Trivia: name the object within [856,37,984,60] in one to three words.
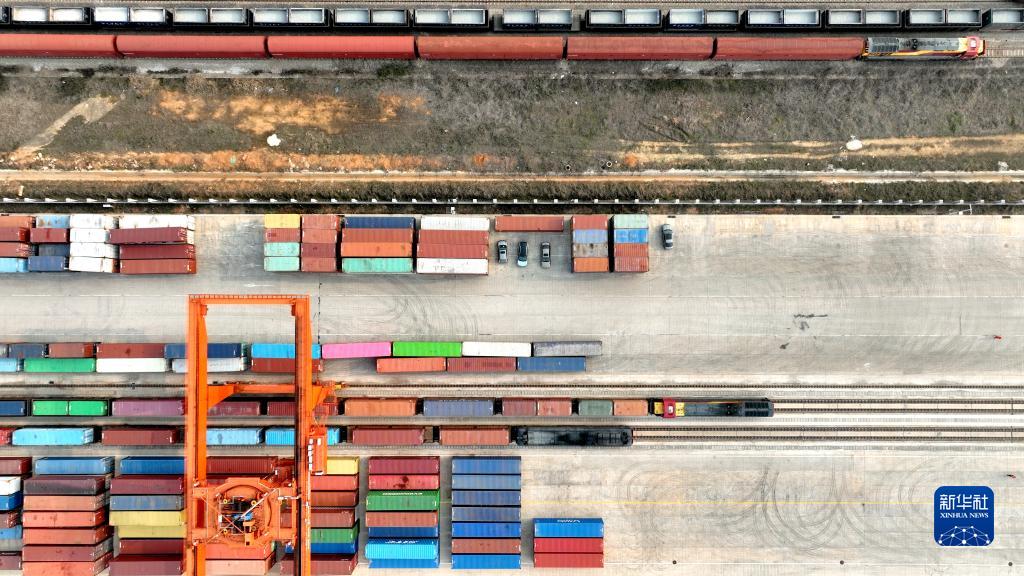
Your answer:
rail car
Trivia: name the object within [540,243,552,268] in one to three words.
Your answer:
vehicle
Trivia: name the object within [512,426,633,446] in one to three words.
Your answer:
rail car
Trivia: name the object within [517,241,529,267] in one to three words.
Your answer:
vehicle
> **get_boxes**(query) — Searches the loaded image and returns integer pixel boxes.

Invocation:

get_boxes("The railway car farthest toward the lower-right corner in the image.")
[649,398,773,418]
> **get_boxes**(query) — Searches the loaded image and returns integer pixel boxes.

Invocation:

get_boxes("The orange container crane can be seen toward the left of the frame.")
[184,294,347,576]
